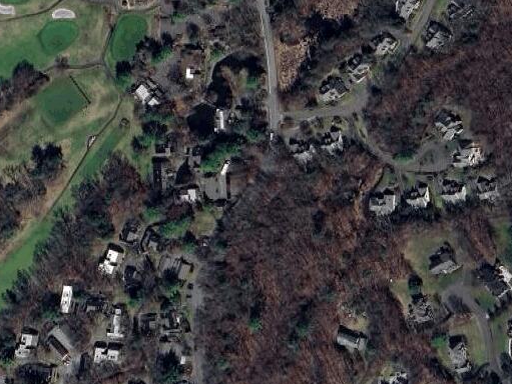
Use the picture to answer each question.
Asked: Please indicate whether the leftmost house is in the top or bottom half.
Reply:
bottom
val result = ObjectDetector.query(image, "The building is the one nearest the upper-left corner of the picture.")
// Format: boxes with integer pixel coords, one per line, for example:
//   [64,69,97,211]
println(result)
[133,80,163,106]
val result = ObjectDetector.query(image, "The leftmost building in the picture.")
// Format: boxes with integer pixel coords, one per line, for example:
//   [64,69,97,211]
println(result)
[16,330,38,356]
